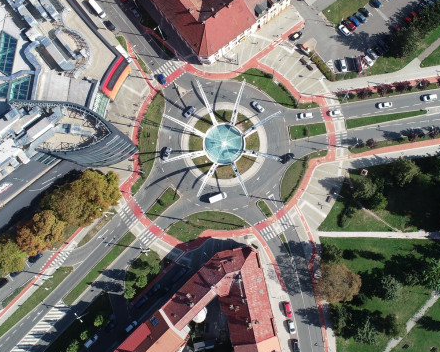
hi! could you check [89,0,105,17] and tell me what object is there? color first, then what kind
white vehicle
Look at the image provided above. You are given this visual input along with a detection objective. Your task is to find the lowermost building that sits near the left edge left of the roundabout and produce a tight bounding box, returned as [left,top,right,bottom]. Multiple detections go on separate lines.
[0,100,137,196]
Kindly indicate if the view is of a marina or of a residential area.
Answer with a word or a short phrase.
residential area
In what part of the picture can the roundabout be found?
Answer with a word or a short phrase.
center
